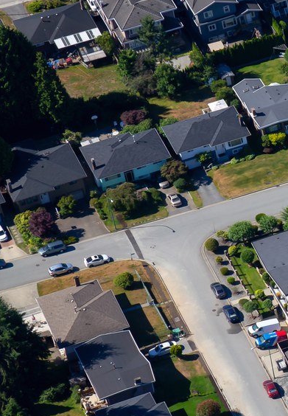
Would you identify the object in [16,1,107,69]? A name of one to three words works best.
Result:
house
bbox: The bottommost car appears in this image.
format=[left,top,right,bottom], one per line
[263,379,281,400]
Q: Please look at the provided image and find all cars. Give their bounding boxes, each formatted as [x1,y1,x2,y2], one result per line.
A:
[256,325,288,349]
[85,0,99,10]
[167,191,183,210]
[249,313,281,338]
[263,379,281,400]
[156,177,172,194]
[147,342,173,358]
[0,258,10,267]
[222,305,240,324]
[46,264,75,279]
[0,222,9,243]
[37,237,68,258]
[210,281,227,301]
[83,254,112,268]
